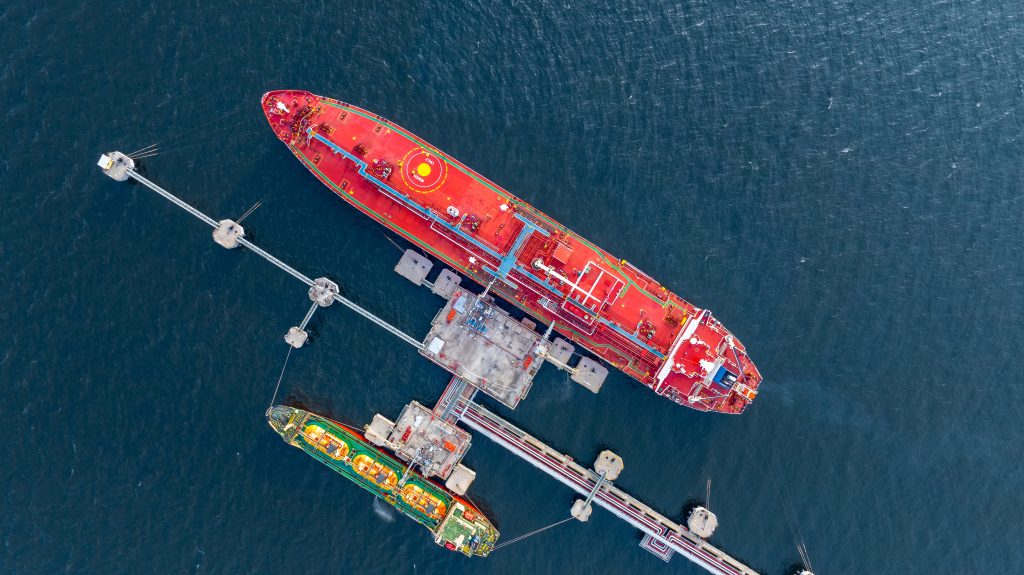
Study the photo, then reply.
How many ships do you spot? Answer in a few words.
2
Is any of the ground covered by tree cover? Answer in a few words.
No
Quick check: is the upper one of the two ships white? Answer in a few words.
No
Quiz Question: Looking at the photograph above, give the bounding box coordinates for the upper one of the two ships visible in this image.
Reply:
[260,87,765,413]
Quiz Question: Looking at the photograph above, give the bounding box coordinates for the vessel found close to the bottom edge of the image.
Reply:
[264,404,501,556]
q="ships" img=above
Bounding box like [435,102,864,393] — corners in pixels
[260,87,765,413]
[264,404,501,556]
